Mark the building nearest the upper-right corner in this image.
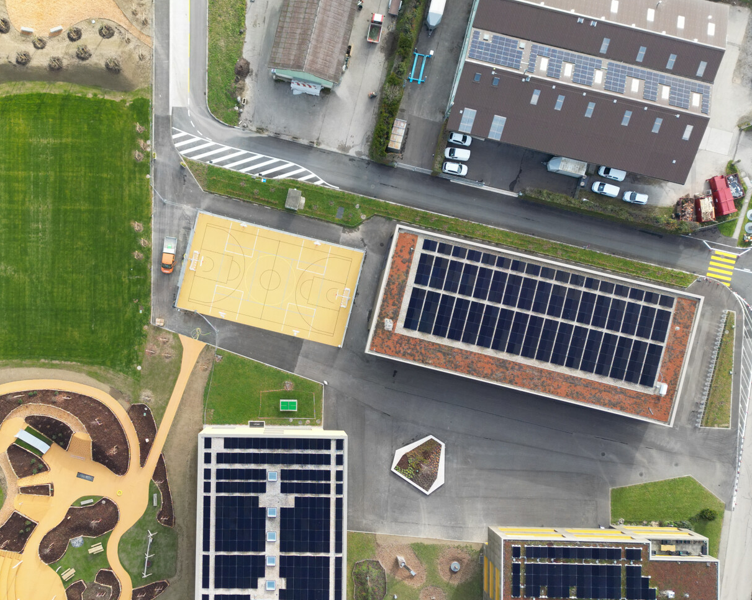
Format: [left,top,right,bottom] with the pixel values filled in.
[442,0,730,190]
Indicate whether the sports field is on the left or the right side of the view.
left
